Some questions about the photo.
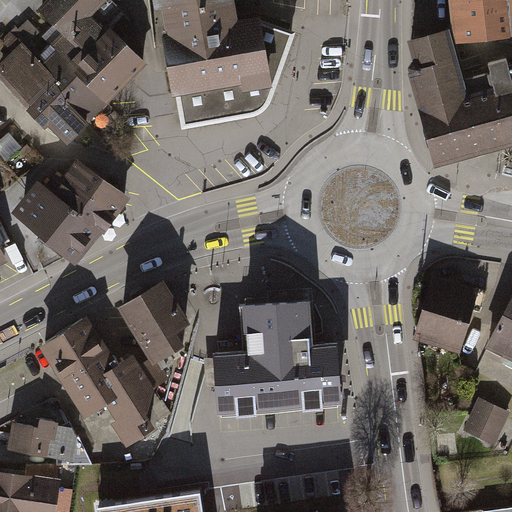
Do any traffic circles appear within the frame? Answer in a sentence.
Yes, a traffic circle is visible in the scene.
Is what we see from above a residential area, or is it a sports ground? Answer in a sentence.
What you see here is a residential area.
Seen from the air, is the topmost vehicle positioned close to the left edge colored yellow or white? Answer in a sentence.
From above, the topmost vehicle positioned close to the left edge appears white.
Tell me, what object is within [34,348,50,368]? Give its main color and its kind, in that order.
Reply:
red car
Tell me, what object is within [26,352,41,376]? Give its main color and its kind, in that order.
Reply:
black car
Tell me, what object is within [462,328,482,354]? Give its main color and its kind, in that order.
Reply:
white vehicle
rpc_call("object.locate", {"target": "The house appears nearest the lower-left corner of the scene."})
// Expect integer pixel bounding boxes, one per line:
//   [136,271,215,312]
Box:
[0,464,72,512]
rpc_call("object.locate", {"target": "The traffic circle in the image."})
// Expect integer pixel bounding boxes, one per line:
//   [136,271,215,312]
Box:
[284,130,436,284]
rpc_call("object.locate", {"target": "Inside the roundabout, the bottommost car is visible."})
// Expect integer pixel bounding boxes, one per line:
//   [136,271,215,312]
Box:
[331,252,352,264]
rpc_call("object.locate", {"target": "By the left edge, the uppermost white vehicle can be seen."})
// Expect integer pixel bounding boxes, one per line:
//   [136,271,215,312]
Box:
[4,244,24,270]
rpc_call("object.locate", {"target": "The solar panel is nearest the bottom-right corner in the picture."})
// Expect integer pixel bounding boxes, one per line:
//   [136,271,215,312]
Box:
[324,388,339,404]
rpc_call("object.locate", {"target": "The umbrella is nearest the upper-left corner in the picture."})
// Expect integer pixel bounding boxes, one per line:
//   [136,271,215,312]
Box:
[95,114,108,128]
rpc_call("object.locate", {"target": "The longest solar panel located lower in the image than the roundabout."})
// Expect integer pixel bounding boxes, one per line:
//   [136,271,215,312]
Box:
[258,390,300,410]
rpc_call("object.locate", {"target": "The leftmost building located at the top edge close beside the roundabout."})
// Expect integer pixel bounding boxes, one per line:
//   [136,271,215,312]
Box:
[161,0,294,132]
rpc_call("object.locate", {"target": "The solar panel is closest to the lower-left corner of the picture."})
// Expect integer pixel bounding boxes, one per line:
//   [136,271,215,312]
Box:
[218,396,234,412]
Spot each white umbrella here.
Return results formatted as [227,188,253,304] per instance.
[103,228,116,241]
[112,214,125,228]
